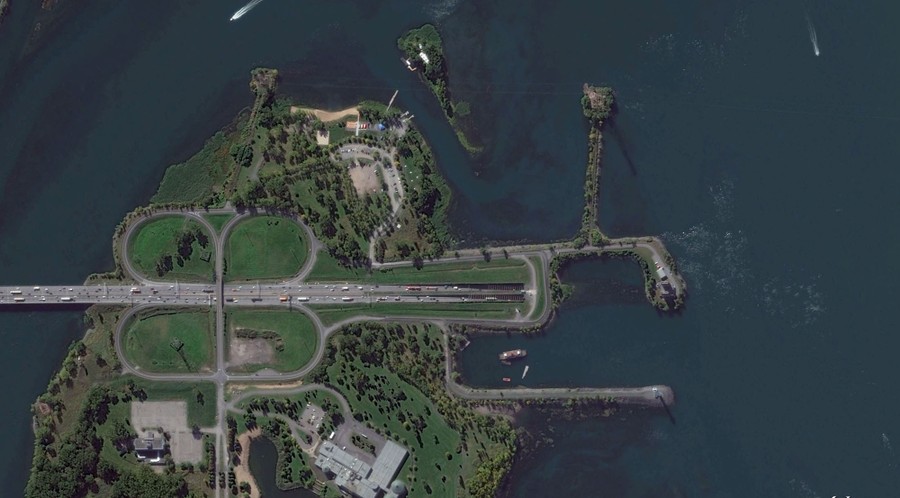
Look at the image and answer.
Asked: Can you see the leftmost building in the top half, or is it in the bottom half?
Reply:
bottom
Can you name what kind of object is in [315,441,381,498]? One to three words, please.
building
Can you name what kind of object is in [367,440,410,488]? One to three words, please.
building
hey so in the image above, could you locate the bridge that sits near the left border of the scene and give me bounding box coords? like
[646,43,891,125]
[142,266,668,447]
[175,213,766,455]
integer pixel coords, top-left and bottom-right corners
[0,285,89,305]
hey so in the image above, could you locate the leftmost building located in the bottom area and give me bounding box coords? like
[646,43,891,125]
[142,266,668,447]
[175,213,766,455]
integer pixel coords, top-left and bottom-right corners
[134,432,166,466]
